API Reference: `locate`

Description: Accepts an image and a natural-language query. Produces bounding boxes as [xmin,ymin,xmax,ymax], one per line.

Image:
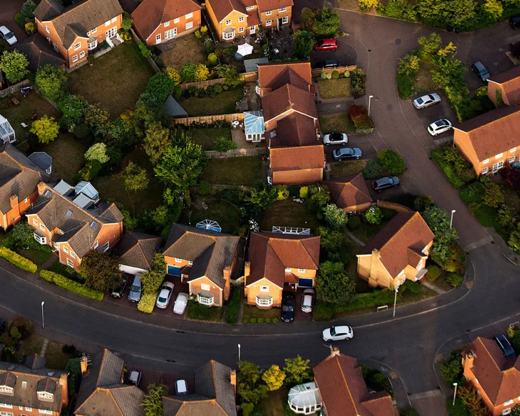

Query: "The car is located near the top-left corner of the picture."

[0,26,17,47]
